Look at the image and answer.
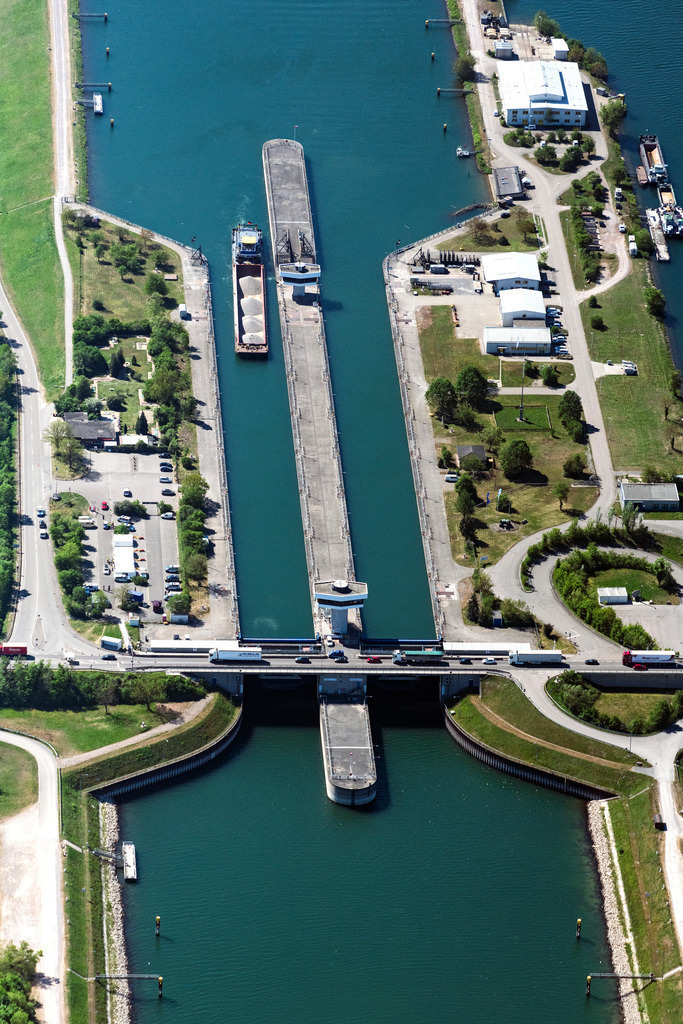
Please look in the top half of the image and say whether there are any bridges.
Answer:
No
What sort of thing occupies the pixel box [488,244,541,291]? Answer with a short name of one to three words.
building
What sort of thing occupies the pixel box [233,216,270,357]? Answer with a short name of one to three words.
ship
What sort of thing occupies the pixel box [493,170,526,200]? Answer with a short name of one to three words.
building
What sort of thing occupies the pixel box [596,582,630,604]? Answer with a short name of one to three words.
shed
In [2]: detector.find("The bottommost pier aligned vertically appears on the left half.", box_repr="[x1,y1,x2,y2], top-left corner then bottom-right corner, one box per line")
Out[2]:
[122,837,137,878]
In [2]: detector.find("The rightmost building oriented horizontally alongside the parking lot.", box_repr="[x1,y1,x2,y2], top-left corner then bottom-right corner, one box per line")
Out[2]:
[149,638,242,653]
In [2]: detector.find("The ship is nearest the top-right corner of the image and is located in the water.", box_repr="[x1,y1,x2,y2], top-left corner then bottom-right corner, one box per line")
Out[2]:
[636,129,674,183]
